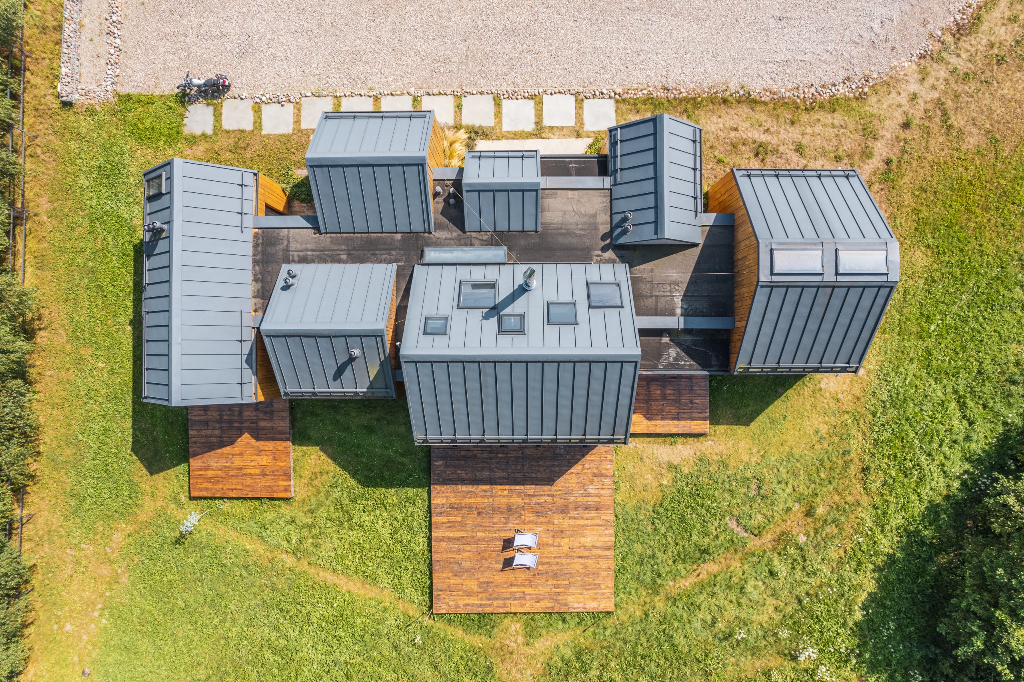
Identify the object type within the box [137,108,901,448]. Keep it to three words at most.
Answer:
house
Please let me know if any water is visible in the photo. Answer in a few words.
No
